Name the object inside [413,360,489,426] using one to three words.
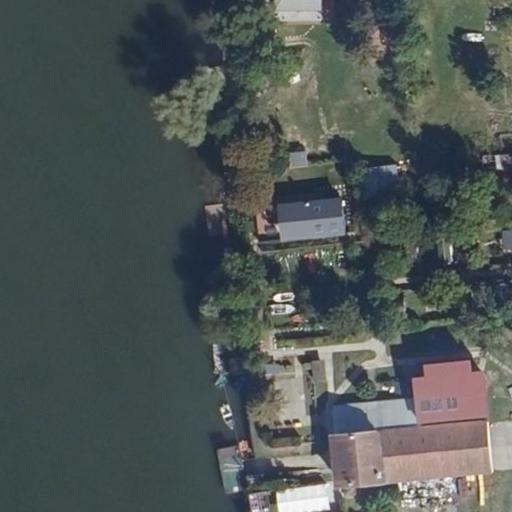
building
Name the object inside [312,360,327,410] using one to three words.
shed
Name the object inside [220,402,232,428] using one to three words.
boat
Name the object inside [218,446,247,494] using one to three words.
pier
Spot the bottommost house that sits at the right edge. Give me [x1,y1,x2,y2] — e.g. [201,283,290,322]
[378,420,494,486]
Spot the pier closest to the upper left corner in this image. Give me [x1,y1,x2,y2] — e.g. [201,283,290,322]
[205,204,228,240]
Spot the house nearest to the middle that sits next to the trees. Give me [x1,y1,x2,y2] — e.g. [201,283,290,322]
[276,196,347,246]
